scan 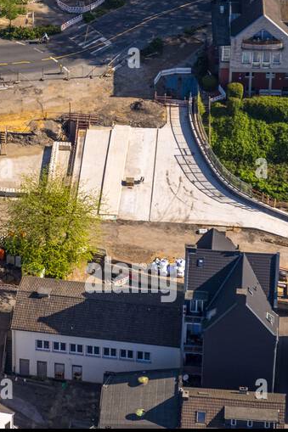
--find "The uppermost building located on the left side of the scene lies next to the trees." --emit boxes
[11,266,188,386]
